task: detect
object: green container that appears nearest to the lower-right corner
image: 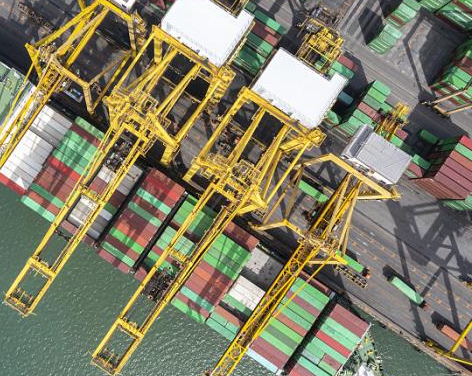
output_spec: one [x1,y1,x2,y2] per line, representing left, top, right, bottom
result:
[387,274,422,303]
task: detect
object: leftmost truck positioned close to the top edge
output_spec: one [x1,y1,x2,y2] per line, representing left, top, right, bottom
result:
[19,0,56,30]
